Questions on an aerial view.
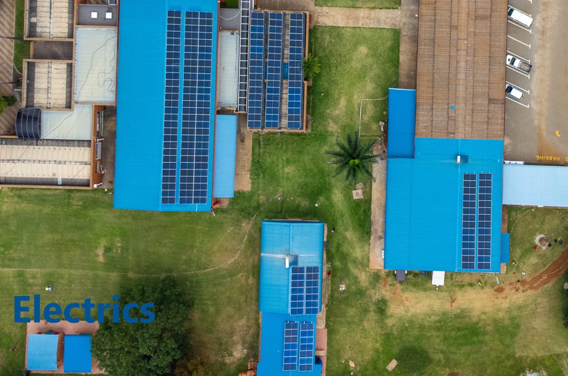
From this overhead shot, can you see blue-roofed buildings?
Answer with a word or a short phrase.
Yes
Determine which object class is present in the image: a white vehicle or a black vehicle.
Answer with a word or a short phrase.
white vehicle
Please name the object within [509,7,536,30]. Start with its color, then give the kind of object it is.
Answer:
white truck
